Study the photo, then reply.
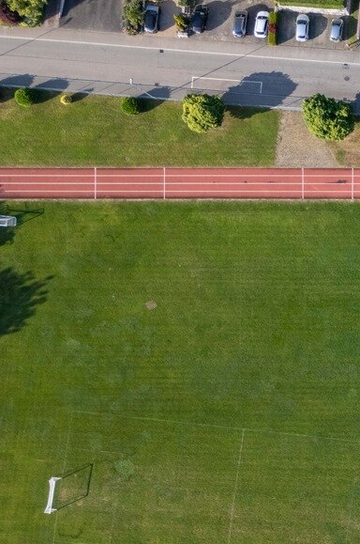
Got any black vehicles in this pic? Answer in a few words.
Yes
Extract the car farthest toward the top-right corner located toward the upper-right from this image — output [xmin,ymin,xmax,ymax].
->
[330,18,345,44]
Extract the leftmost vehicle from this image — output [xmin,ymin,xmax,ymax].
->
[143,3,160,34]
